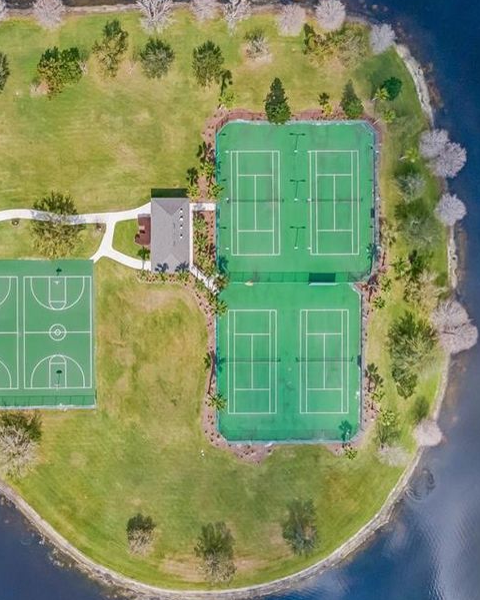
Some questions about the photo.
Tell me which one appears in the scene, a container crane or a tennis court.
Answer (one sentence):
The image shows a tennis court.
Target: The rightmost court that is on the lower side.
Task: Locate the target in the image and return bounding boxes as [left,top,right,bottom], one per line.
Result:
[289,284,361,442]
